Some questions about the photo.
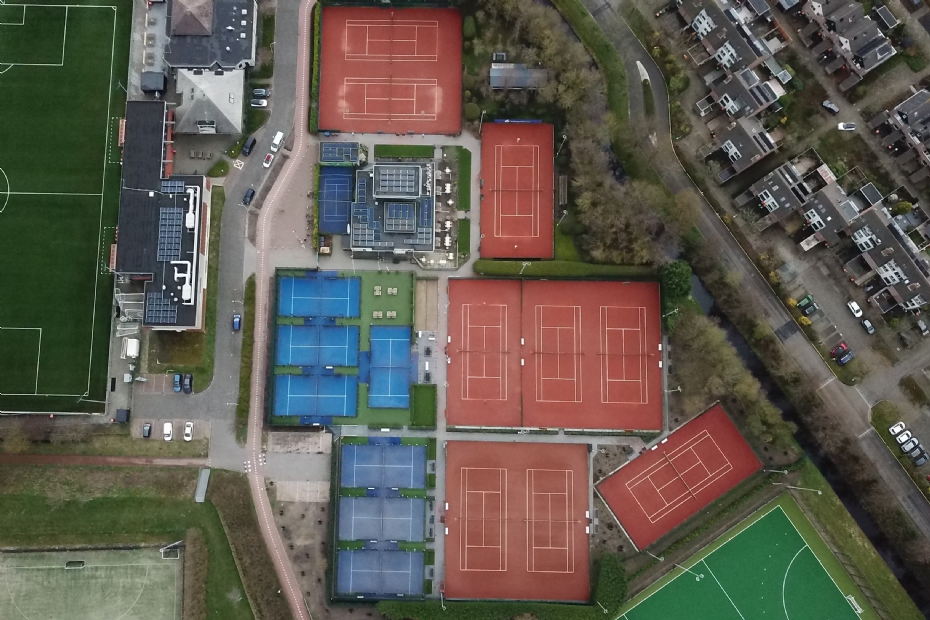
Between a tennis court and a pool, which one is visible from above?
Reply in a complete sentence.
Looking from above, you can make out a tennis court.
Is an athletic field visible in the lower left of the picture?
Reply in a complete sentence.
Yes, an athletic field shows up in the lower left of the picture.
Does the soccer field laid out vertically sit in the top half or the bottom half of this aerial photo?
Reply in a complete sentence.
Seen from above, the soccer field laid out vertically lies in the top half of the view.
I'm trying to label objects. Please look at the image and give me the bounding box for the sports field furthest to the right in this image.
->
[601,492,884,620]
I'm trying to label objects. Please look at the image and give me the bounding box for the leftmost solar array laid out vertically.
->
[158,208,182,261]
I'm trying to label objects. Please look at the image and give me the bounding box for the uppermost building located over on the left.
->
[163,0,261,74]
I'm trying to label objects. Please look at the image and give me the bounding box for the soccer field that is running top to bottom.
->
[0,0,133,411]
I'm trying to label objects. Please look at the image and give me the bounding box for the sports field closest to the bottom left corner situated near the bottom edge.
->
[0,546,183,620]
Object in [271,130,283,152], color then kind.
white vehicle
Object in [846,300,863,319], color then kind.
white car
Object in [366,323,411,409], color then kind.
blue sports court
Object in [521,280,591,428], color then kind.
red tennis court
